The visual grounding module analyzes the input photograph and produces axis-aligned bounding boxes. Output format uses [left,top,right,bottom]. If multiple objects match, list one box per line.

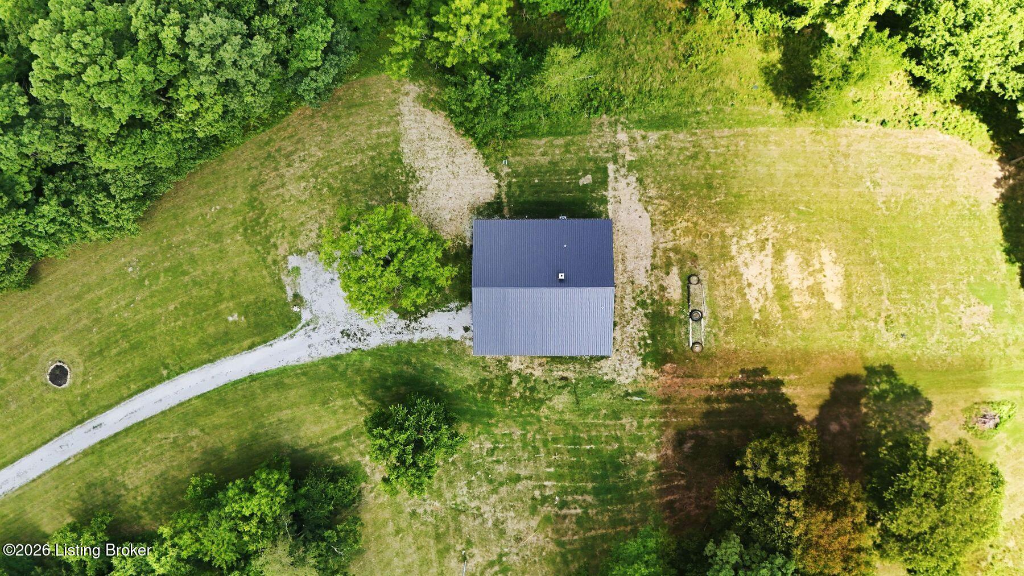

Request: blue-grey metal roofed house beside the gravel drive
[471,219,616,357]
